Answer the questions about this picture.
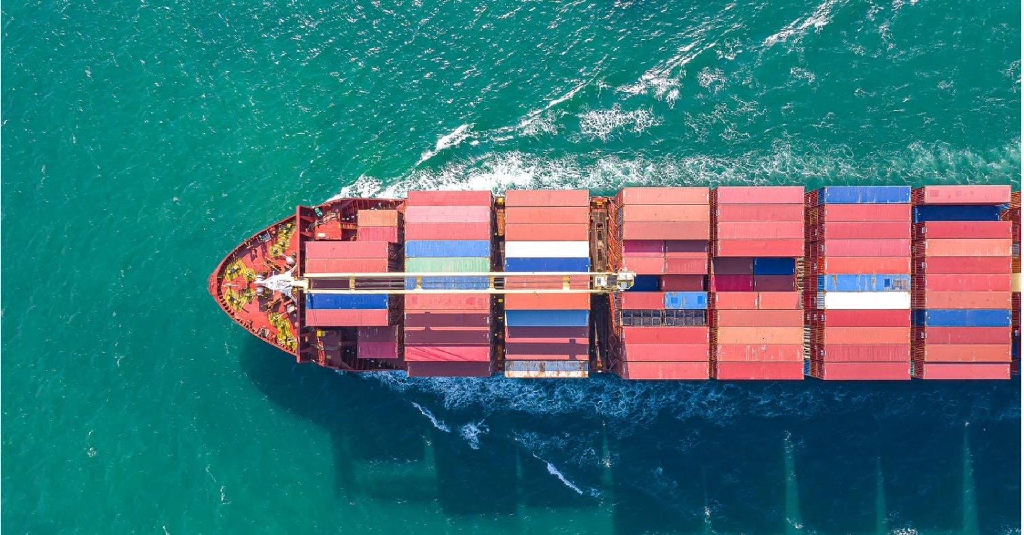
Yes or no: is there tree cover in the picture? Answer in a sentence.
No, no tree cover is visible.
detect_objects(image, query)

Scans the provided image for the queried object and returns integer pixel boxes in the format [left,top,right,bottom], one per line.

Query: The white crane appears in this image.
[304,267,635,301]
